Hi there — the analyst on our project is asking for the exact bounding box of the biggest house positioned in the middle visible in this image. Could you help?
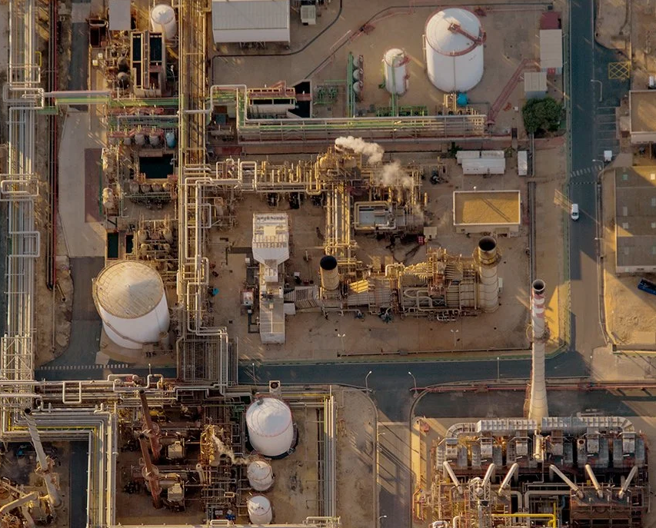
[252,212,292,341]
